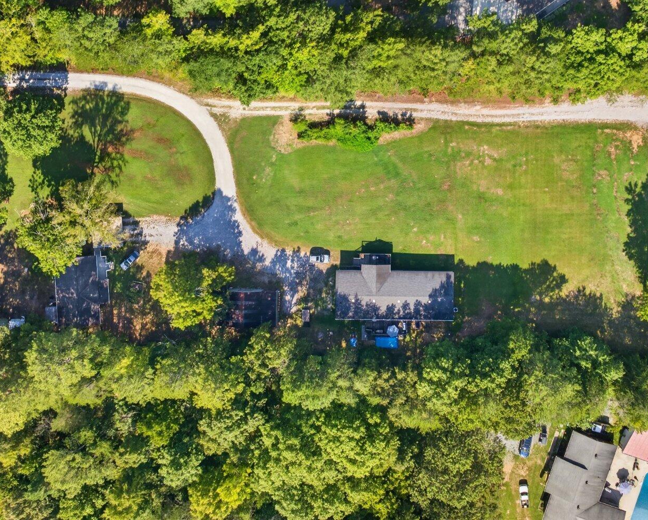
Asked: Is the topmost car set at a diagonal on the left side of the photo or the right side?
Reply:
left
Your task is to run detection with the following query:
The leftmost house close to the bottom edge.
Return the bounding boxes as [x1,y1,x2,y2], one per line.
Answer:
[531,429,626,520]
